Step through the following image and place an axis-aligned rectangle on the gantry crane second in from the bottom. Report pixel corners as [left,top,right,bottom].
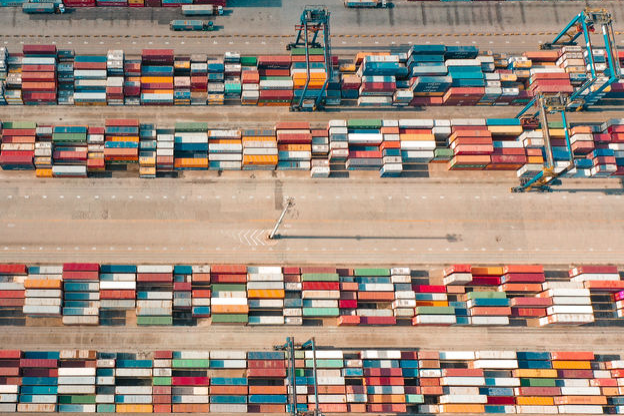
[506,94,572,191]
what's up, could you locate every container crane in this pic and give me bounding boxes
[548,12,620,111]
[506,94,572,191]
[273,334,319,416]
[287,10,330,111]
